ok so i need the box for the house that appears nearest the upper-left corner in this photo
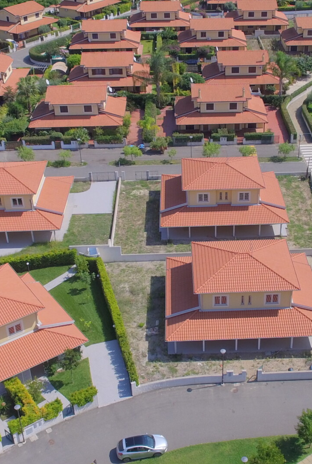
[0,0,63,41]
